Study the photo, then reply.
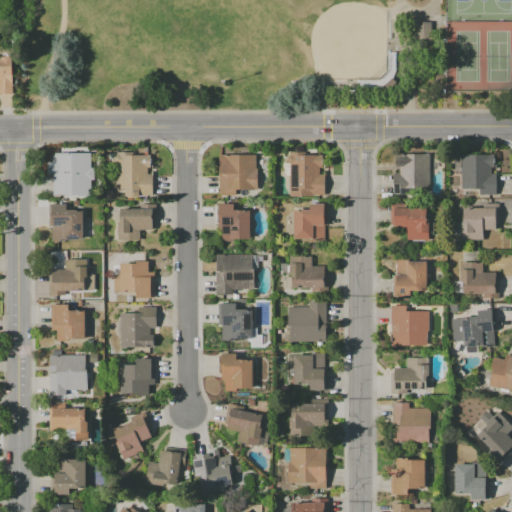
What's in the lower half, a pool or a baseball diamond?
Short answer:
pool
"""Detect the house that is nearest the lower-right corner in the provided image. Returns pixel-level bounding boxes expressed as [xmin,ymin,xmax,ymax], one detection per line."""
[456,464,487,501]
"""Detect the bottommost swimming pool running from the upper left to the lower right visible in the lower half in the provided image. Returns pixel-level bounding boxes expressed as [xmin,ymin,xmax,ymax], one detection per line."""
[246,450,268,471]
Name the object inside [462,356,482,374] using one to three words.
swimming pool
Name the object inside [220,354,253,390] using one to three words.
house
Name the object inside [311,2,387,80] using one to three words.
baseball field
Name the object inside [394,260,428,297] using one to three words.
house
